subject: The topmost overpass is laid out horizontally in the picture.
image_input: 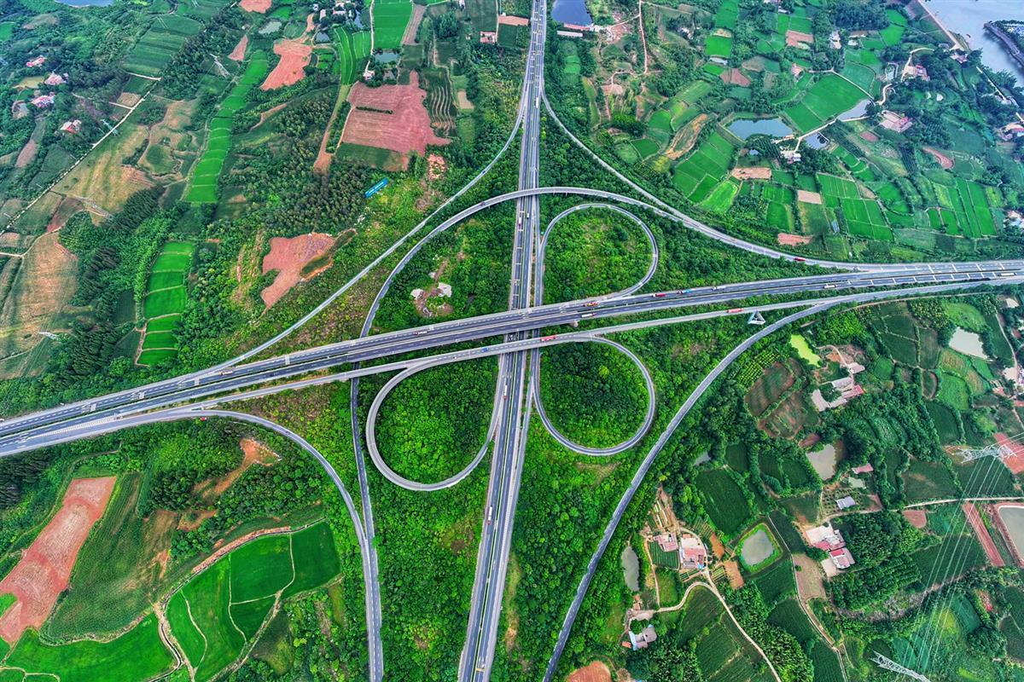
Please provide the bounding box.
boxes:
[405,188,741,260]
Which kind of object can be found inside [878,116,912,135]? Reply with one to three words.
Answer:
house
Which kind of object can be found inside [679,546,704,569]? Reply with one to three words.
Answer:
house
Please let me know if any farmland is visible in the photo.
Yes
